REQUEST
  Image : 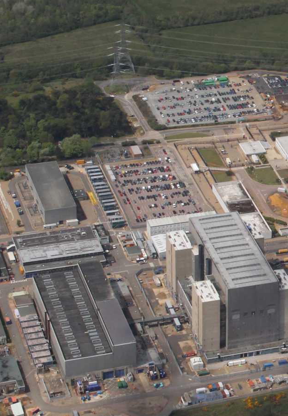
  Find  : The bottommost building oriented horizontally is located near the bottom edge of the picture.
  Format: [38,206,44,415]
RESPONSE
[190,390,224,407]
